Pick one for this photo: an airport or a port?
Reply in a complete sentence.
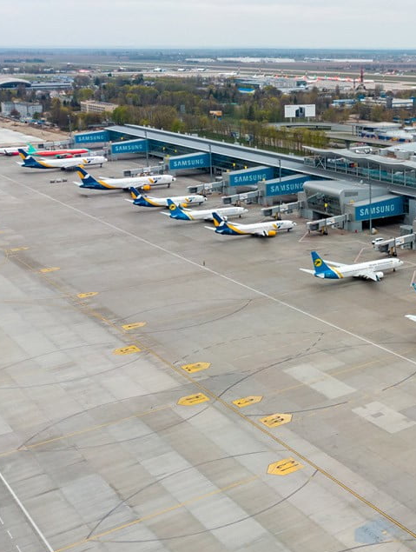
It's an airport.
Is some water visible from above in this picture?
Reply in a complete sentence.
No, no water is visible.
